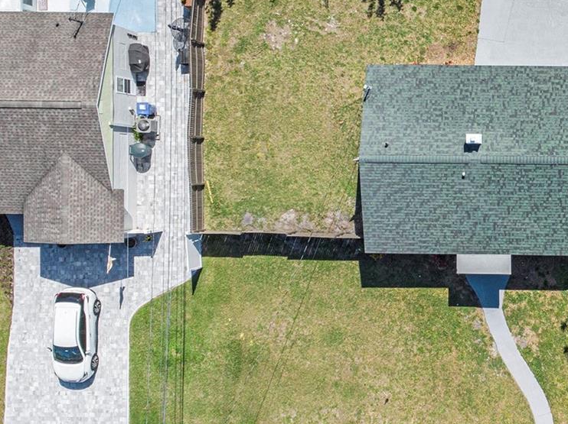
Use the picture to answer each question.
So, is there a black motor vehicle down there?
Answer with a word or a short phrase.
No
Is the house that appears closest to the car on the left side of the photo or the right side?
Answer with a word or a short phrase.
left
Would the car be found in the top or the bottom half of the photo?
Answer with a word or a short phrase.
bottom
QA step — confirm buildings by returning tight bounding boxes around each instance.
[354,64,568,275]
[0,12,145,246]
